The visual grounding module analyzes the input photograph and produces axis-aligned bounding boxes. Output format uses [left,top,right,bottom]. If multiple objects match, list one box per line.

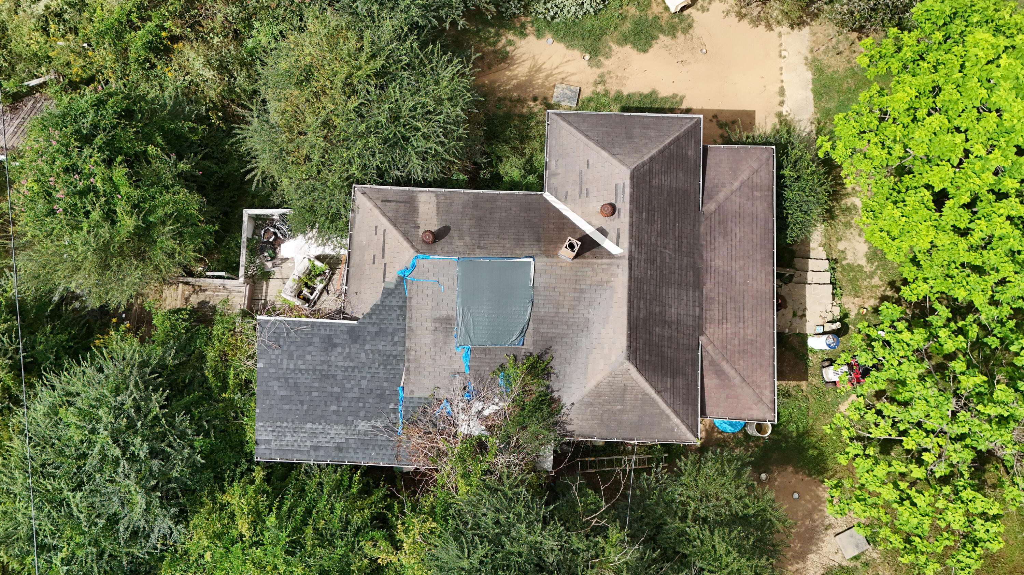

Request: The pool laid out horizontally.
[714,419,747,433]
